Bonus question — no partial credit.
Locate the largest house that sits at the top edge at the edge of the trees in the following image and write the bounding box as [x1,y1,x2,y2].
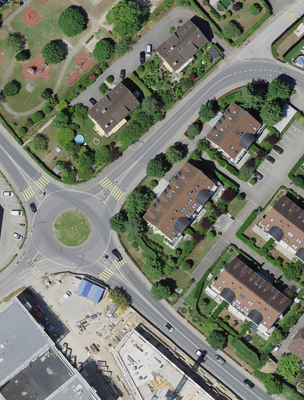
[156,20,210,74]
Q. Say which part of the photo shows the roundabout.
left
